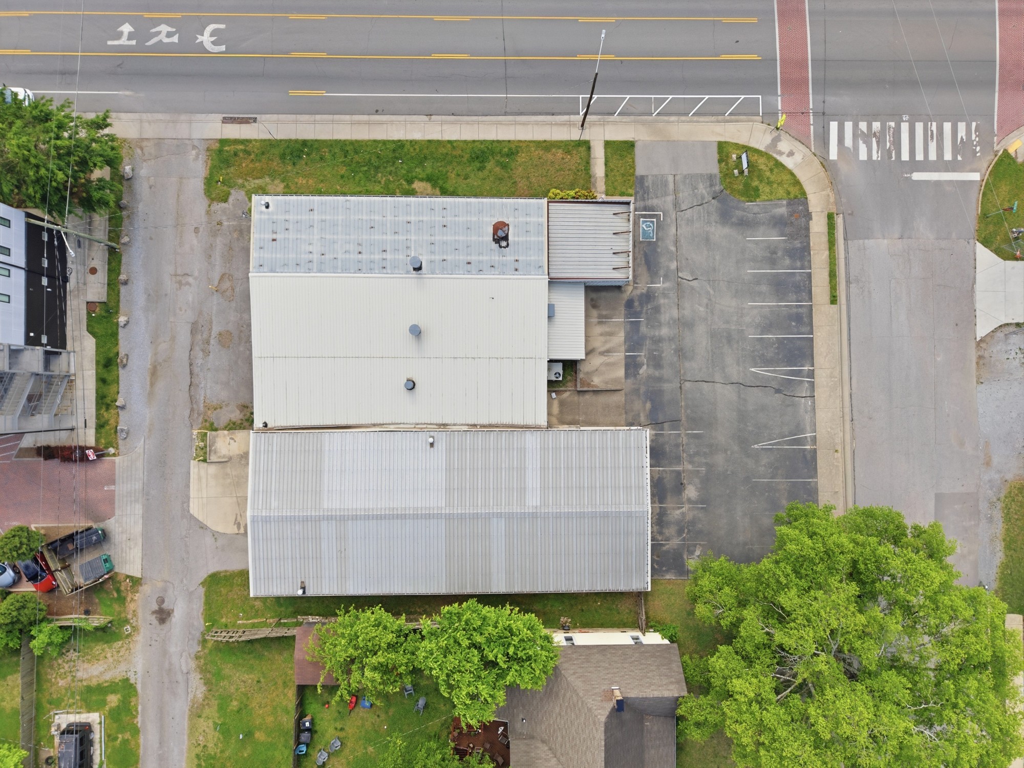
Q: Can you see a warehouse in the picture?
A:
Yes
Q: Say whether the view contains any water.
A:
No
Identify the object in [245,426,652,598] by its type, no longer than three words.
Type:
warehouse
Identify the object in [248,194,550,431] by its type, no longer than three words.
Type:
warehouse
